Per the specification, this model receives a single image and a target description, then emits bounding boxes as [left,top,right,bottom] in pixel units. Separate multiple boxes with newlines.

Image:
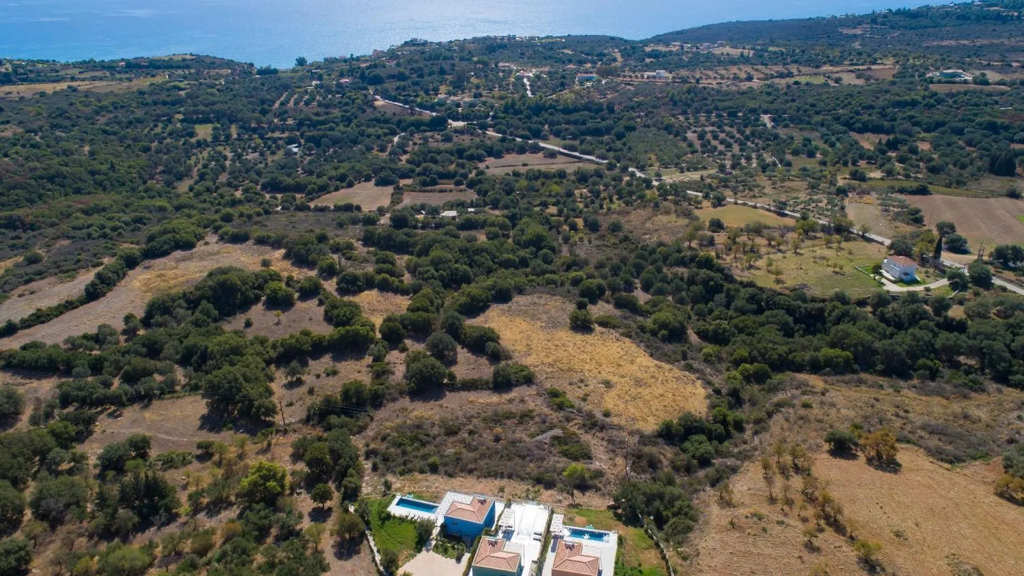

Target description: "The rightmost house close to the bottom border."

[550,536,599,576]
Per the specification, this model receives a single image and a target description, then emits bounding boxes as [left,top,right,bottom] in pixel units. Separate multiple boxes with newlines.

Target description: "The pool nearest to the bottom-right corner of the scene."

[564,527,611,542]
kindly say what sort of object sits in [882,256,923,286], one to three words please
house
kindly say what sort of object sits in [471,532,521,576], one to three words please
house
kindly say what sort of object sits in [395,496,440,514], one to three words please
swimming pool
